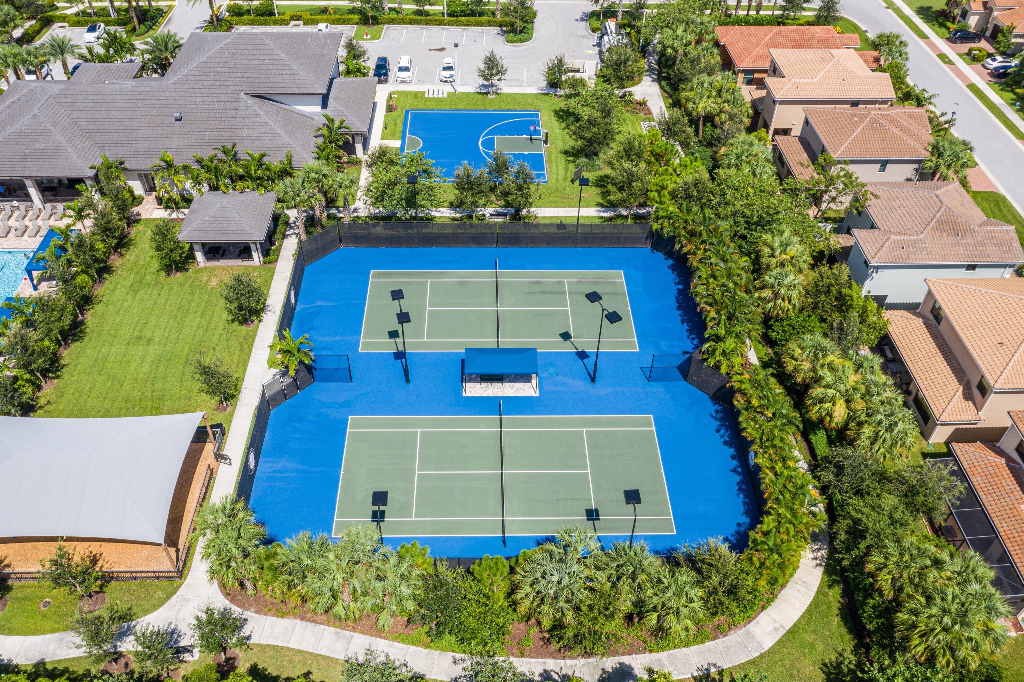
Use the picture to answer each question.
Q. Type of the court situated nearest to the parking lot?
basketball court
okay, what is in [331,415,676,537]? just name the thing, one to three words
tennis court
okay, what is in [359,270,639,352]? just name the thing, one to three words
tennis court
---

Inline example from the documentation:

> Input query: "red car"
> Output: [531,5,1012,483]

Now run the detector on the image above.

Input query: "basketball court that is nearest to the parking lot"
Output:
[398,109,548,183]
